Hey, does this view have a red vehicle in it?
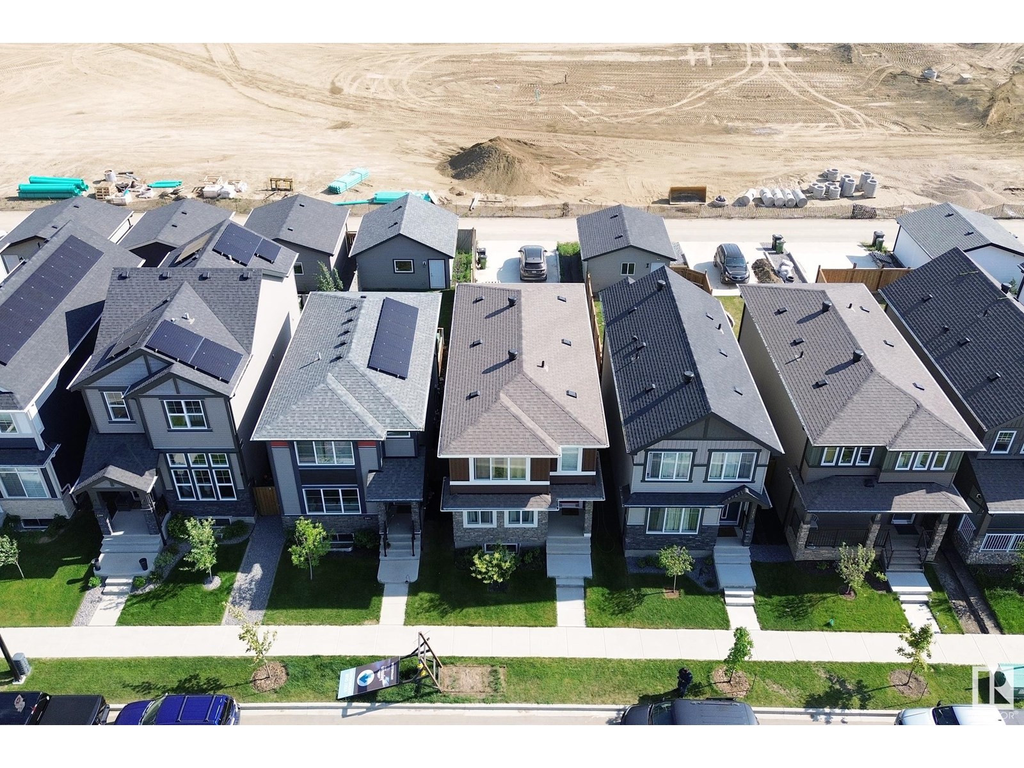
No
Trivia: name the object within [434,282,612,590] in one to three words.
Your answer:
house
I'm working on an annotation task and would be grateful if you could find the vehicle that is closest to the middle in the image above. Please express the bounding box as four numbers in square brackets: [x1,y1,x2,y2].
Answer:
[517,239,549,273]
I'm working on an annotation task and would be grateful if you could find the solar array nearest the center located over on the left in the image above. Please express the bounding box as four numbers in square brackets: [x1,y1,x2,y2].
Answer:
[370,296,420,379]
